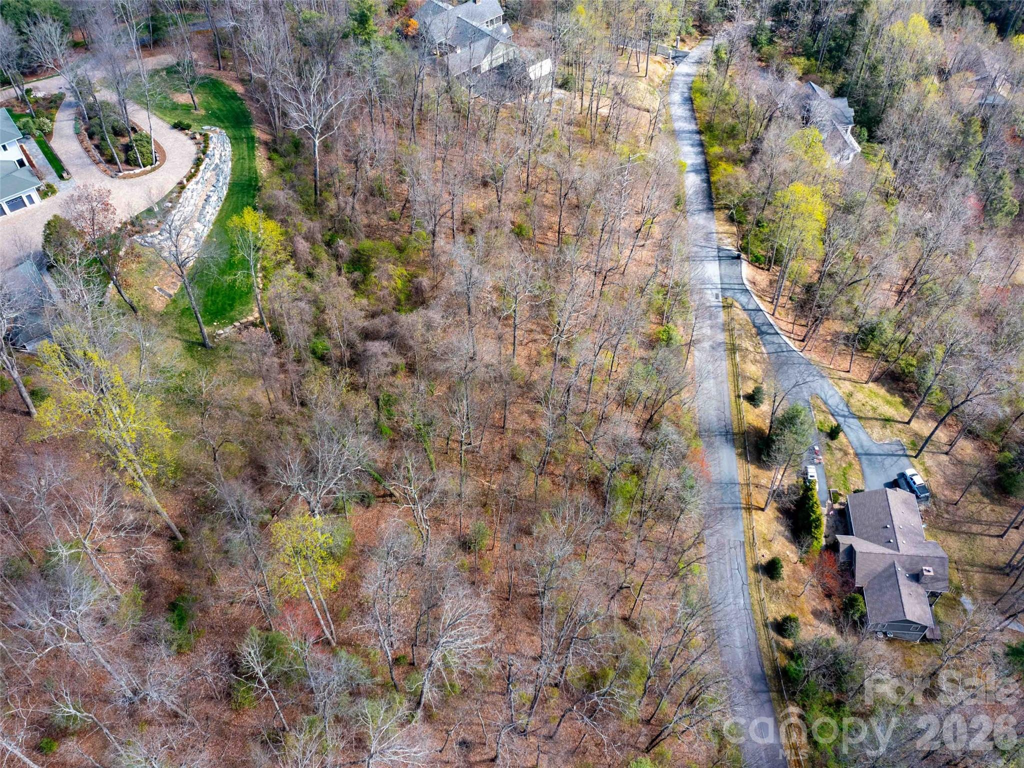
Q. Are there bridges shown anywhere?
No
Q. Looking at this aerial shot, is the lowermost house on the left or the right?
right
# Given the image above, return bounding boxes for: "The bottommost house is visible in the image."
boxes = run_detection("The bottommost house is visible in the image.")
[829,486,952,648]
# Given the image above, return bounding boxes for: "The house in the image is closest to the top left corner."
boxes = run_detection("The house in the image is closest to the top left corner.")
[0,123,44,216]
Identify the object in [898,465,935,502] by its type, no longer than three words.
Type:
truck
